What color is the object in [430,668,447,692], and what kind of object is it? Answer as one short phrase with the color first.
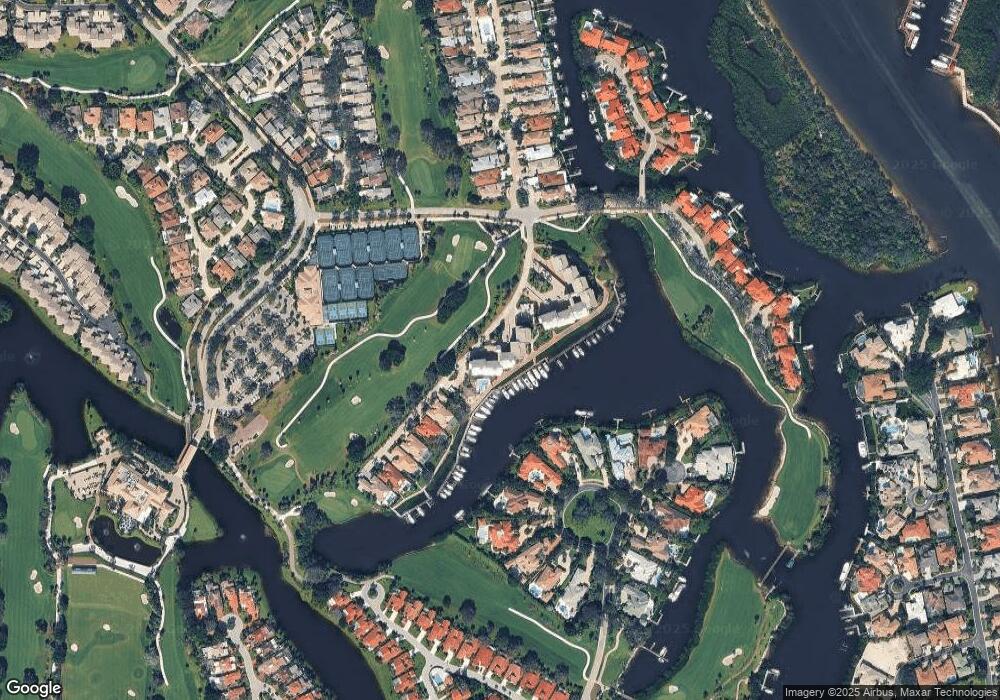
white swimming pool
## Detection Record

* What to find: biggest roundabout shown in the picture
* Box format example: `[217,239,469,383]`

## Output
[558,479,626,547]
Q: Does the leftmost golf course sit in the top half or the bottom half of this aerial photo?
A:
bottom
